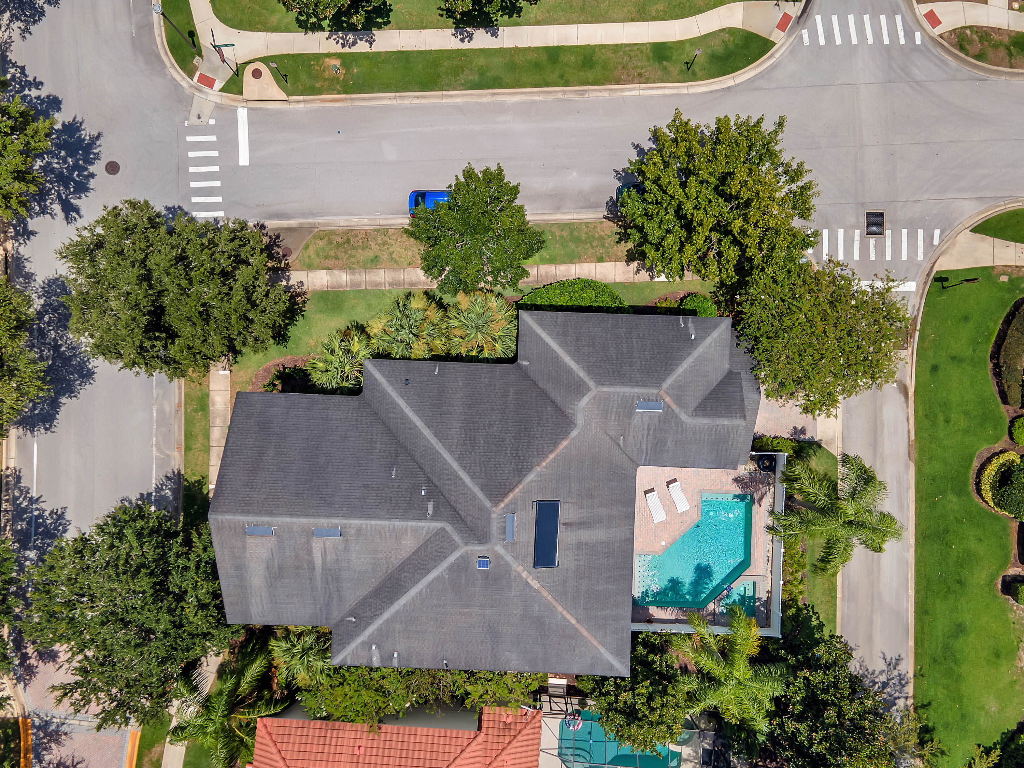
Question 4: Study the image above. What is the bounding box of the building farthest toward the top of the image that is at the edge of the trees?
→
[207,308,763,676]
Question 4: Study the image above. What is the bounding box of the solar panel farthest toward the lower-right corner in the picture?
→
[636,398,666,414]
